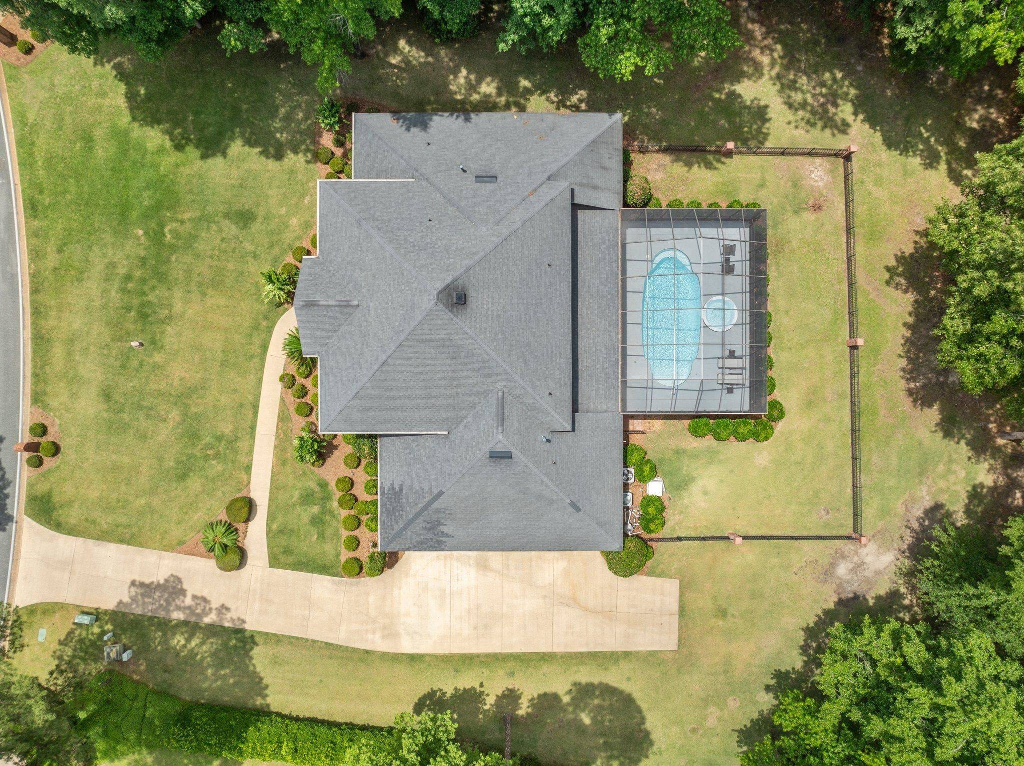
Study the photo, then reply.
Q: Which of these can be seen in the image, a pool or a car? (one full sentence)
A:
Looking from above, you can make out a pool.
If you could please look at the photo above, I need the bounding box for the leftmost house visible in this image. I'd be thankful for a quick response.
[294,111,624,553]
